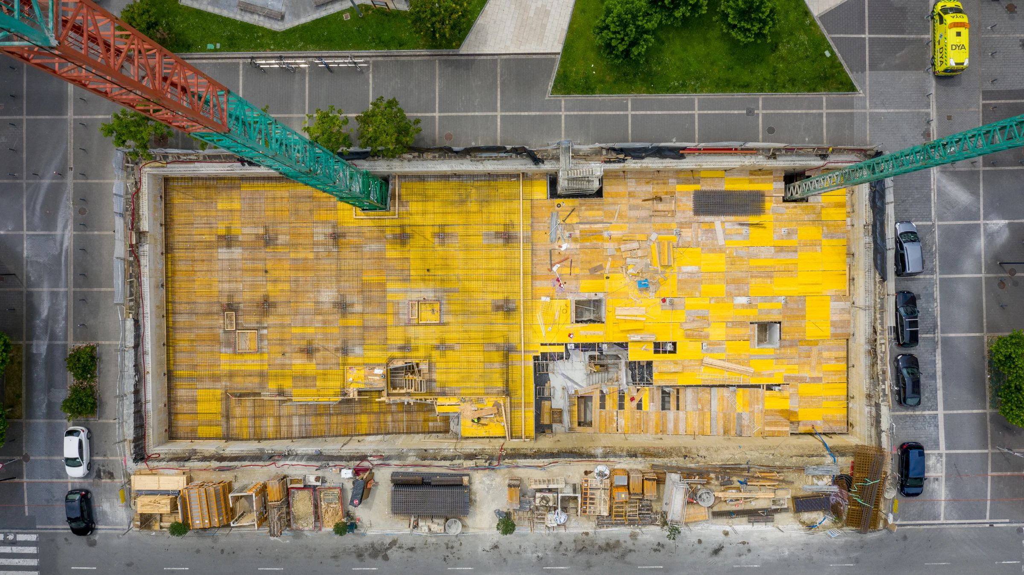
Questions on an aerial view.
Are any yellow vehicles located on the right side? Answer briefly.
Yes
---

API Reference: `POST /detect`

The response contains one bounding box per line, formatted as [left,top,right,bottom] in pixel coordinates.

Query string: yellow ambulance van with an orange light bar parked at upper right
[928,0,974,75]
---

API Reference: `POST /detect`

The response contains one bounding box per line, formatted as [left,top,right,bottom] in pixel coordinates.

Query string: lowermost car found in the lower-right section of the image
[896,442,928,498]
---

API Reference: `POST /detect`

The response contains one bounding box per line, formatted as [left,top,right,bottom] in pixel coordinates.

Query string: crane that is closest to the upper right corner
[782,110,1024,203]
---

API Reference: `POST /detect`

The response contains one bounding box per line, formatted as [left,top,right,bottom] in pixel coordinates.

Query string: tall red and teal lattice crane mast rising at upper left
[0,0,394,213]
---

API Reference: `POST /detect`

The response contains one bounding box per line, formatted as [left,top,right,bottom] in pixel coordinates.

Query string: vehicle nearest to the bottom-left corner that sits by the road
[64,488,96,538]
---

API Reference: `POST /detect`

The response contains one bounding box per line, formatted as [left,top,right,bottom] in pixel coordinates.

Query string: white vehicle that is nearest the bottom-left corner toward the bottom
[60,427,93,479]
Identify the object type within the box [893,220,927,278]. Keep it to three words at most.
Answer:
car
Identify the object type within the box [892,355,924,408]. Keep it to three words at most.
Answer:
car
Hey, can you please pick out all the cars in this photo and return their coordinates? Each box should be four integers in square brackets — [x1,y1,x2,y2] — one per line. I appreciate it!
[892,355,924,408]
[64,488,96,538]
[896,442,928,498]
[894,291,925,349]
[60,427,93,479]
[893,220,927,278]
